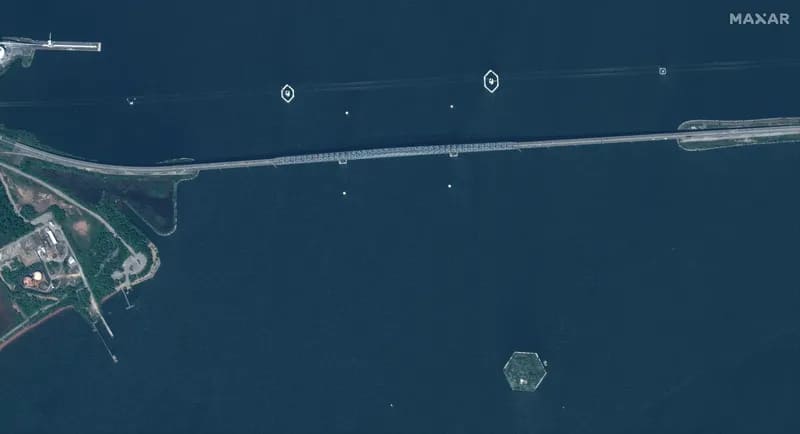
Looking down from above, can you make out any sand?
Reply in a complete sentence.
No, the picture contains no sand.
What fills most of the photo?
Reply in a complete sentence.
The bulk of the photo consists of water.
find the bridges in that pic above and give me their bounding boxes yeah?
[12,126,800,173]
